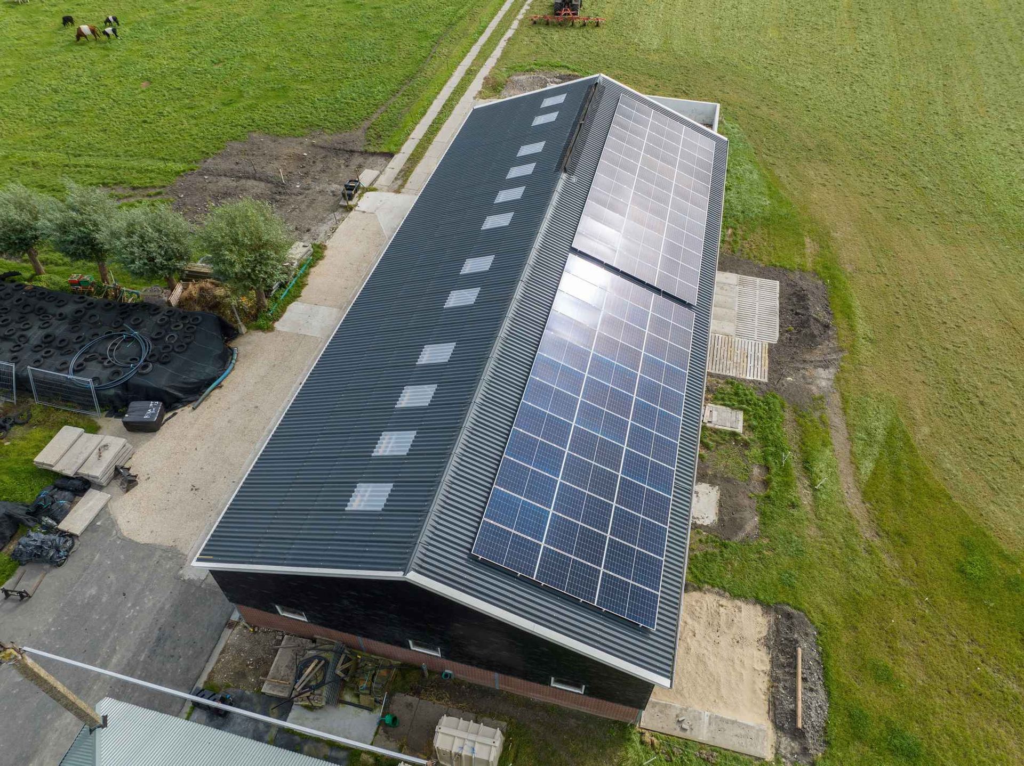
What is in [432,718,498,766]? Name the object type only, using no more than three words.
storage tank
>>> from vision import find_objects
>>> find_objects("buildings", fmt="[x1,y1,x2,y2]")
[186,72,731,725]
[58,696,338,766]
